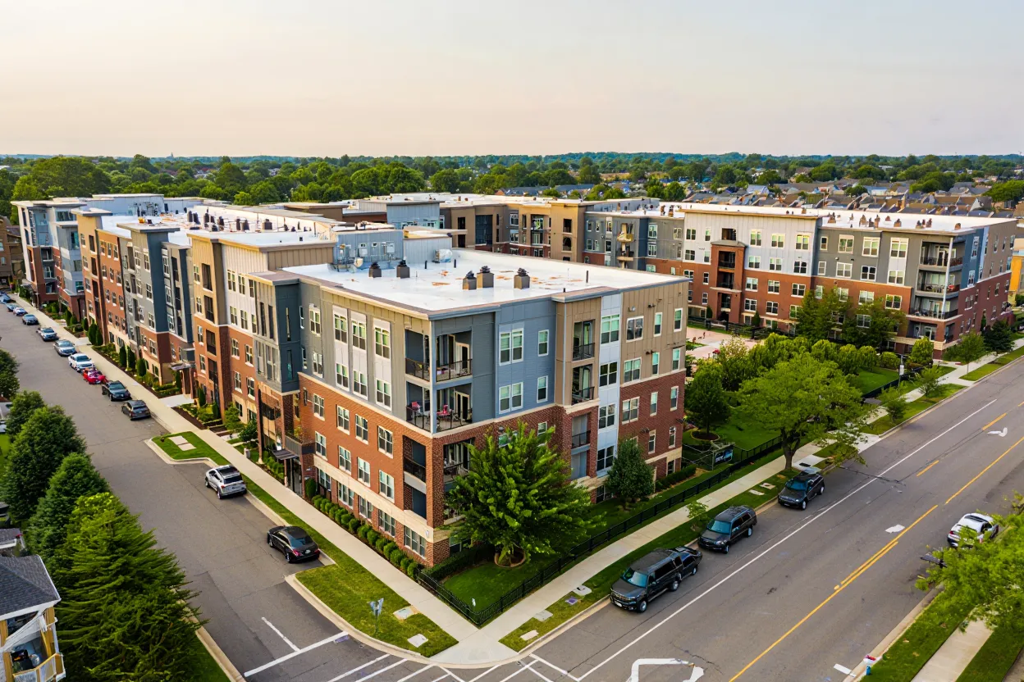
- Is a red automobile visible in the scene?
Yes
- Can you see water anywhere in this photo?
No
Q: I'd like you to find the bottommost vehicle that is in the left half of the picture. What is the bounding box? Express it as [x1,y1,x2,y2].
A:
[254,521,313,560]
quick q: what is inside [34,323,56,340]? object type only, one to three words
car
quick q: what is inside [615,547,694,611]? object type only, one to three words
car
